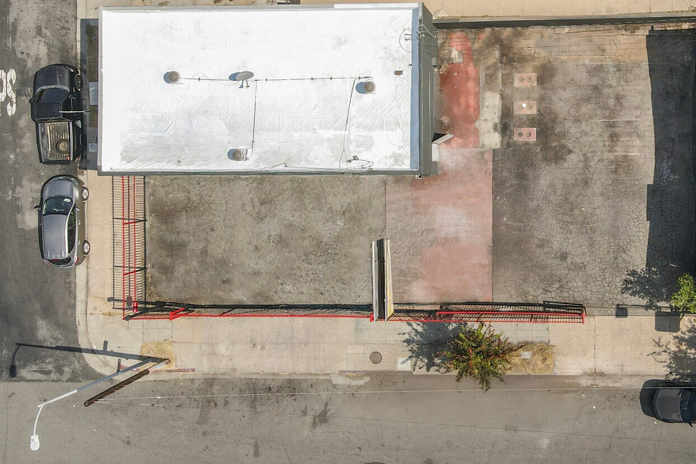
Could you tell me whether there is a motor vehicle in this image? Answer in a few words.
Yes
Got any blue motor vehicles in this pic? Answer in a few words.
No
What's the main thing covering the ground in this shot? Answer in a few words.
paved ground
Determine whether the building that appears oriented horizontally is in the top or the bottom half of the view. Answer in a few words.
top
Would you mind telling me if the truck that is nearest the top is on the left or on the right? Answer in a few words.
left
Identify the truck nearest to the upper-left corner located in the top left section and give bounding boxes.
[26,65,85,163]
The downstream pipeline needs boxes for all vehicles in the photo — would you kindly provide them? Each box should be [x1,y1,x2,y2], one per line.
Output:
[32,176,91,268]
[652,381,696,428]
[26,65,85,163]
